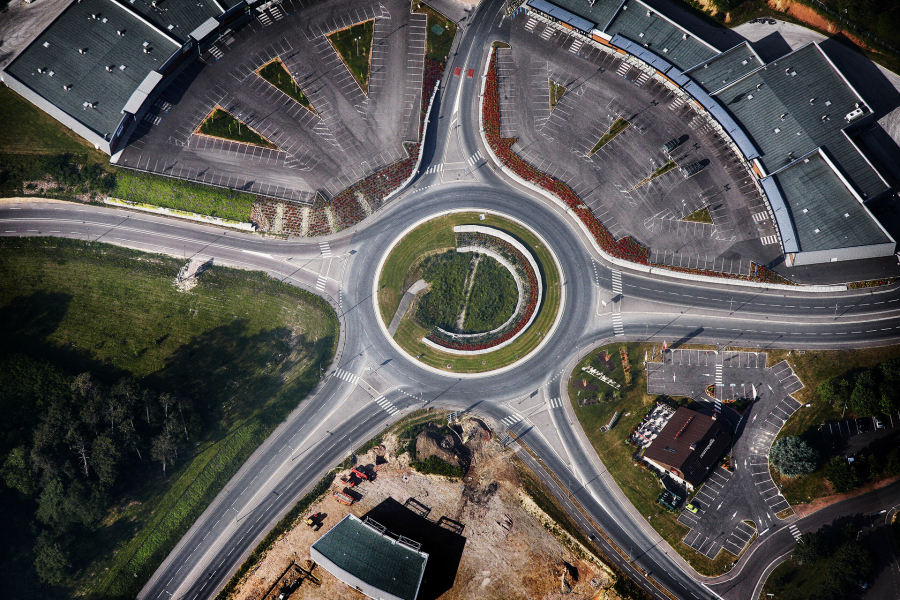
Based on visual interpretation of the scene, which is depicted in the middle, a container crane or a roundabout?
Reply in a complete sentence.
What appears in the middle is a roundabout.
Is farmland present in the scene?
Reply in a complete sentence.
No, there's no farmland in this view.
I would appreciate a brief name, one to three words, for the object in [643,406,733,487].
building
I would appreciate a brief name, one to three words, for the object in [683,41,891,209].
building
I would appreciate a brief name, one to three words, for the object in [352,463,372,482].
work vehicle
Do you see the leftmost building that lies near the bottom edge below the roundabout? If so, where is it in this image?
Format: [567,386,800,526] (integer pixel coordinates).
[310,514,428,600]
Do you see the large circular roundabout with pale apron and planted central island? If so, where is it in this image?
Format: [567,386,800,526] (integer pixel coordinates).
[339,181,599,409]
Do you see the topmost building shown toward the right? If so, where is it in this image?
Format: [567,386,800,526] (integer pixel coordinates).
[526,0,627,44]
